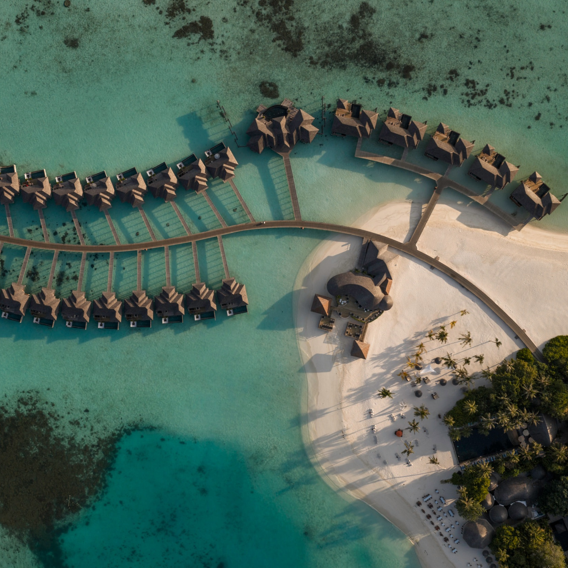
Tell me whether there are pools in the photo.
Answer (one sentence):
Yes, looking at the shot, I can spot a pool.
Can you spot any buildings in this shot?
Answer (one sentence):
Yes, I can see a building in this picture.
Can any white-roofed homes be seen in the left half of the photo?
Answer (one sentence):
No, no white-roofed home appears in the left half of the photo.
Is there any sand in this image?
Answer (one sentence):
Yes, there's sand in this view.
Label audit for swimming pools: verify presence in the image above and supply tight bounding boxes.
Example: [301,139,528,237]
[169,314,183,322]
[136,318,151,326]
[533,182,549,198]
[31,170,45,180]
[183,155,198,168]
[489,153,504,169]
[8,310,23,321]
[104,320,118,328]
[62,172,77,183]
[201,310,215,319]
[445,130,459,147]
[348,104,360,119]
[153,163,168,176]
[123,168,138,180]
[397,113,410,129]
[1,166,15,175]
[40,316,54,326]
[233,304,248,314]
[211,143,227,156]
[72,319,87,328]
[92,172,107,183]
